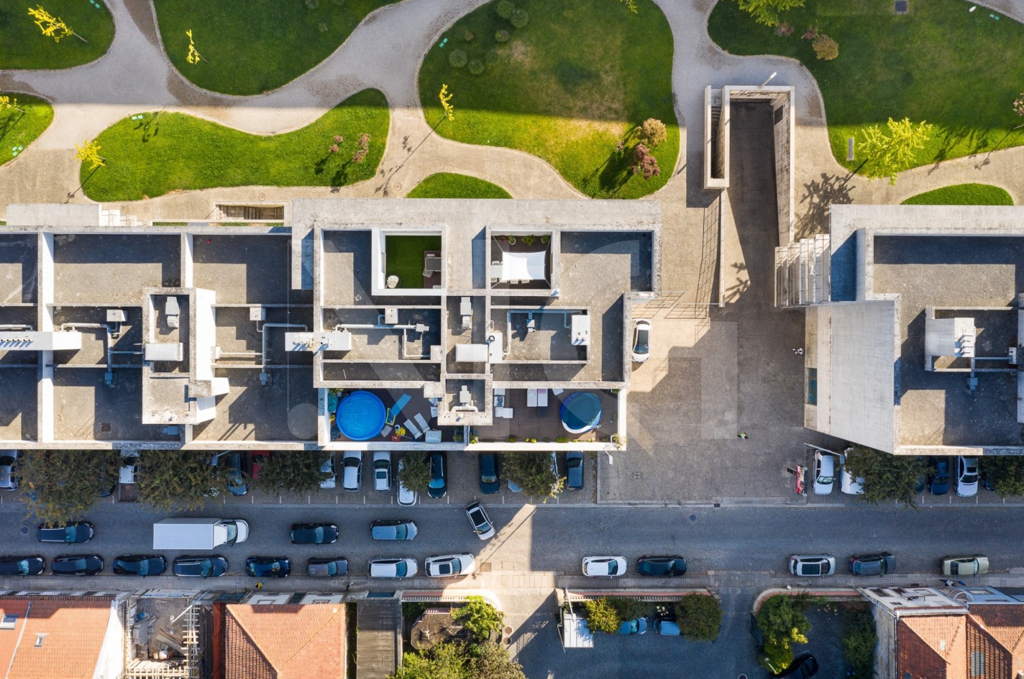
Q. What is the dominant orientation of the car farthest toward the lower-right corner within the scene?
from side to side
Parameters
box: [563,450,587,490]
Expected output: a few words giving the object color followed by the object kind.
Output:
blue car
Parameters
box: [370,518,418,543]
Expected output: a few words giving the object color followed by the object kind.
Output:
blue car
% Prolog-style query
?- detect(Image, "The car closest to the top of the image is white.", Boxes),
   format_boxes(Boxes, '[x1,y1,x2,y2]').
[632,318,654,363]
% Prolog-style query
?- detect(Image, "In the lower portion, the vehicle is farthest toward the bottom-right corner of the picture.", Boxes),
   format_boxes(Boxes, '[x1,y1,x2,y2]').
[940,554,990,579]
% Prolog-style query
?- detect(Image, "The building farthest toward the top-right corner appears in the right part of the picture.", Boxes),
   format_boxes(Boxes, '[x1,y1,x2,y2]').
[774,205,1024,455]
